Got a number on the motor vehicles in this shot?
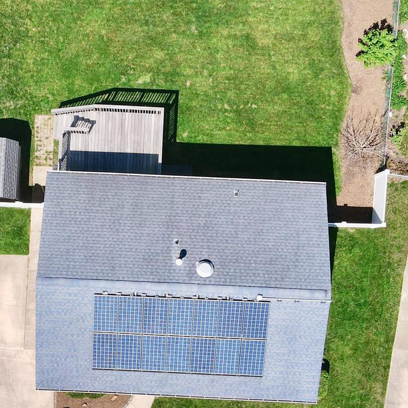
none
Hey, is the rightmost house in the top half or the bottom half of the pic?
bottom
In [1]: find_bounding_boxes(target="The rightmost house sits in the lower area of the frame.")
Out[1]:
[36,170,331,404]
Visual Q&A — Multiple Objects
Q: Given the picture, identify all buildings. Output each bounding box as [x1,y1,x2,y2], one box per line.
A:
[0,136,21,200]
[36,170,331,404]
